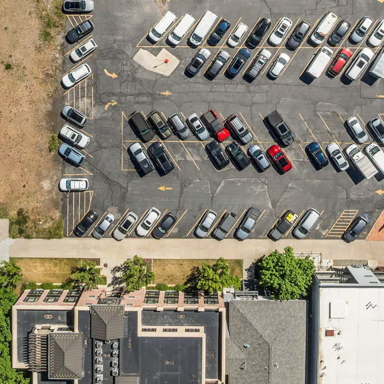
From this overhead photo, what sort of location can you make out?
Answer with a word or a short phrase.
parking lot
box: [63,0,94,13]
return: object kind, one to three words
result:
vehicle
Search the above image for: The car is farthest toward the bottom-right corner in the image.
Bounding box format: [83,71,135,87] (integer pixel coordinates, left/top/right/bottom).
[343,214,368,244]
